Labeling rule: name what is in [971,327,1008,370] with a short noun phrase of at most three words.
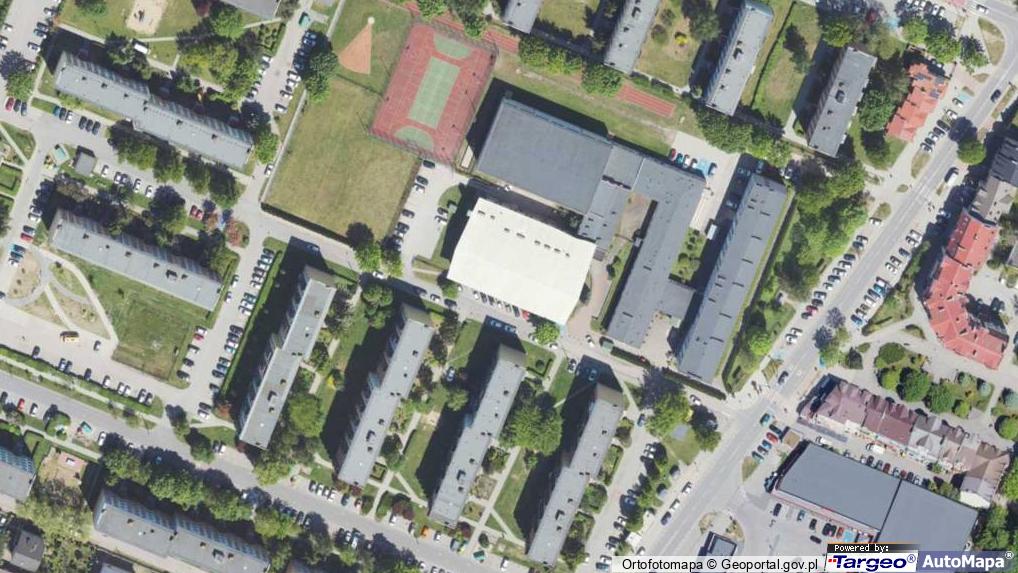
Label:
house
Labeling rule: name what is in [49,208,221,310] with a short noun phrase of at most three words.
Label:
building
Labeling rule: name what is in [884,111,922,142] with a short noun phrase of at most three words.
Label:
house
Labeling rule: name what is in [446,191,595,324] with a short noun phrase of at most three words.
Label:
building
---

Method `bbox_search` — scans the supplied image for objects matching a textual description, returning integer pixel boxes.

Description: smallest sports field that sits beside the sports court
[338,17,375,74]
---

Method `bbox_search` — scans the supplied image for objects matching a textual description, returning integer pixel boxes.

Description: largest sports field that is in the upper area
[263,81,422,252]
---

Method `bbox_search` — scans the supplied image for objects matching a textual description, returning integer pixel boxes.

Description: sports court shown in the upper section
[371,24,497,162]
